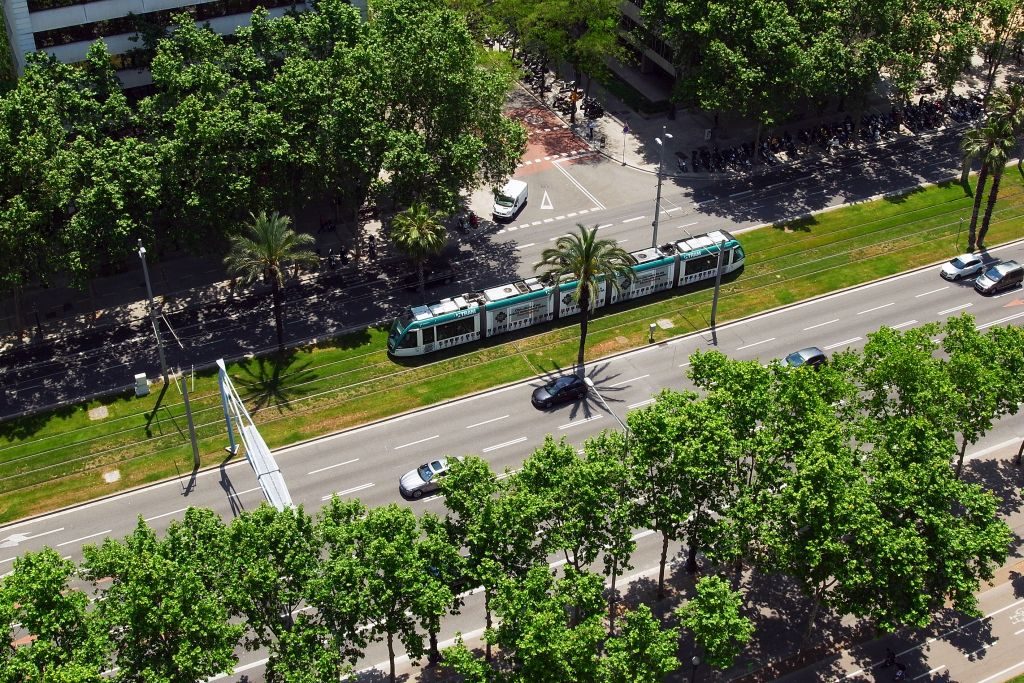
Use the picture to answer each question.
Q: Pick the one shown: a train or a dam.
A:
train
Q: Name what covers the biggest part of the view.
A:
trees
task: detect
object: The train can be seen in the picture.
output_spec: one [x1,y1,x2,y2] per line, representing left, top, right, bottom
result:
[385,228,750,357]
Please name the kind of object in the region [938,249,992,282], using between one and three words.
car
